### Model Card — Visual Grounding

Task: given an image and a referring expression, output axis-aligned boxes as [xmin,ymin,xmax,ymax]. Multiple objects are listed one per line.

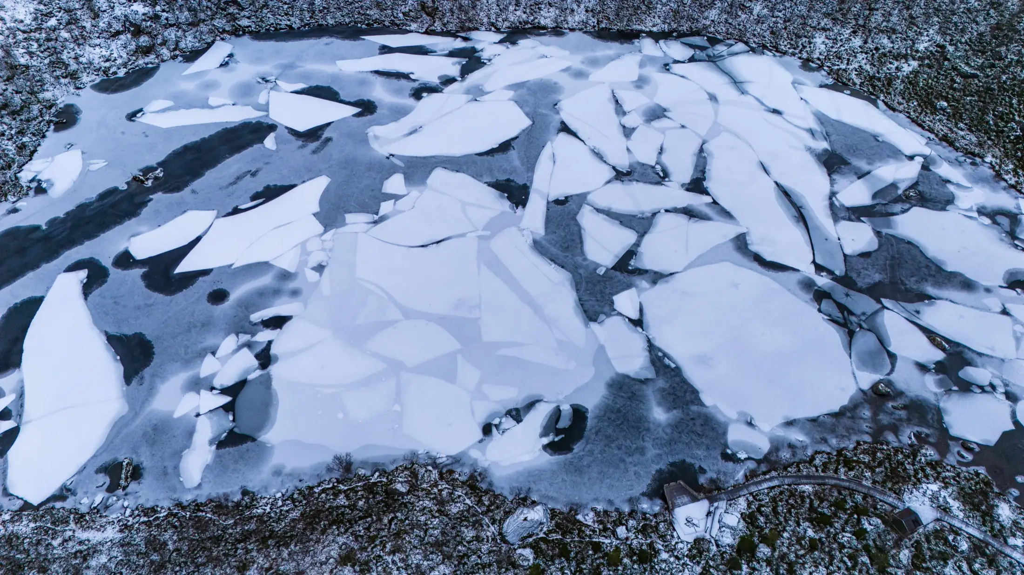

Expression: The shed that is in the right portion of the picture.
[886,508,924,538]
